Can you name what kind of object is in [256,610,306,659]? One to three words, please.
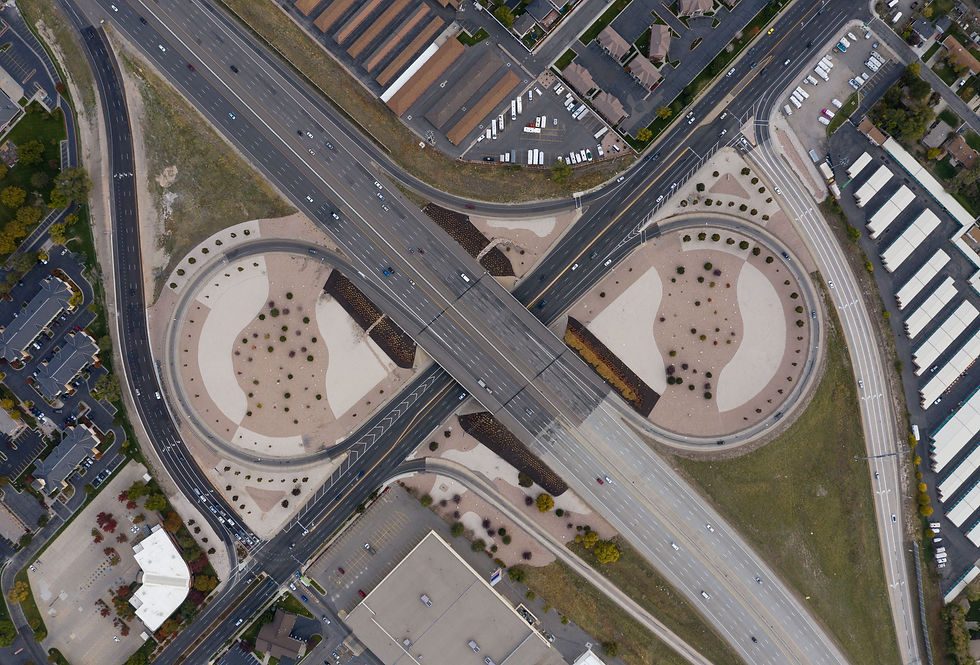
building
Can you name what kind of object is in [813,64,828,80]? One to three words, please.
vehicle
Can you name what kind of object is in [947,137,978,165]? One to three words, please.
house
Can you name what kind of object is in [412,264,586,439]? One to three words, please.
overpass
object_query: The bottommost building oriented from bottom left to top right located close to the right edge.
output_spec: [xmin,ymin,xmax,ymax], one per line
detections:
[942,559,980,604]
